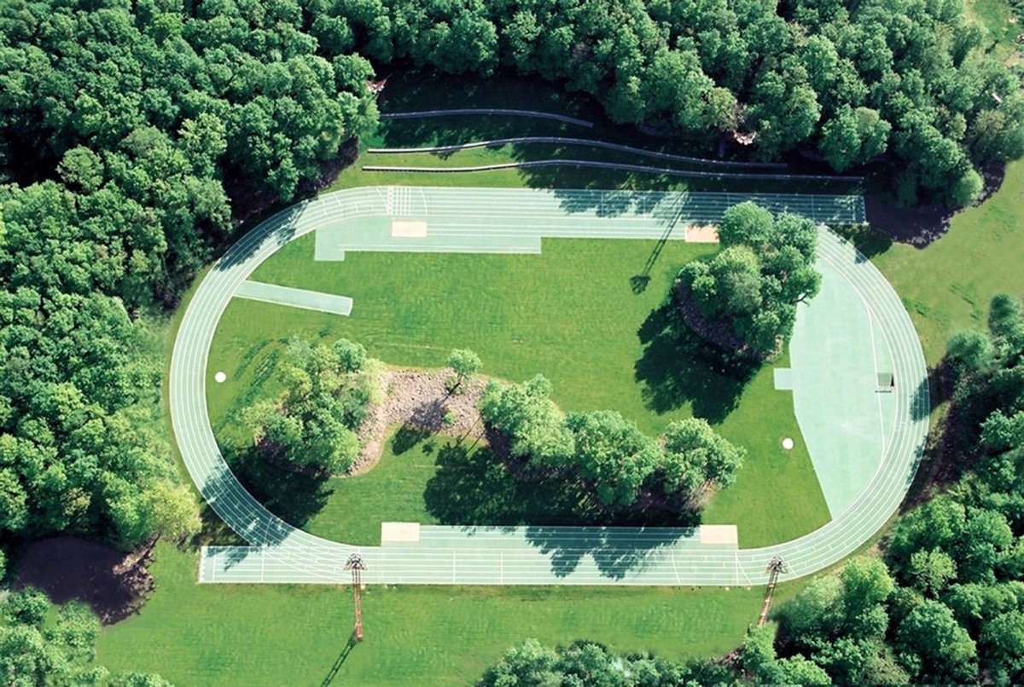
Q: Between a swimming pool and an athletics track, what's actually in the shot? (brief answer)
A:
athletics track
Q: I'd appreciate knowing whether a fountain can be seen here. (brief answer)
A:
No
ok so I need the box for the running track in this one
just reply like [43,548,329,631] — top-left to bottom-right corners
[169,185,930,585]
